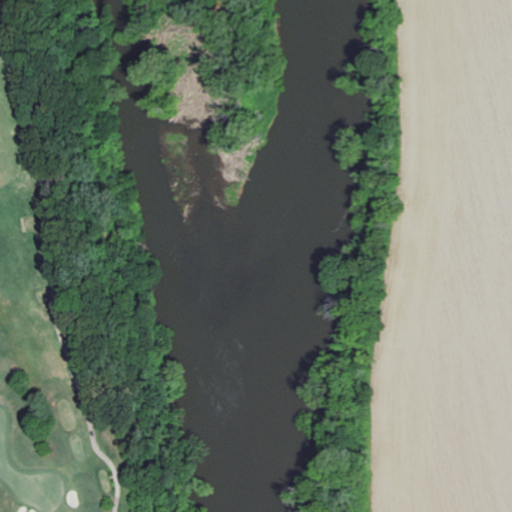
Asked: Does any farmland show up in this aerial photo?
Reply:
Yes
